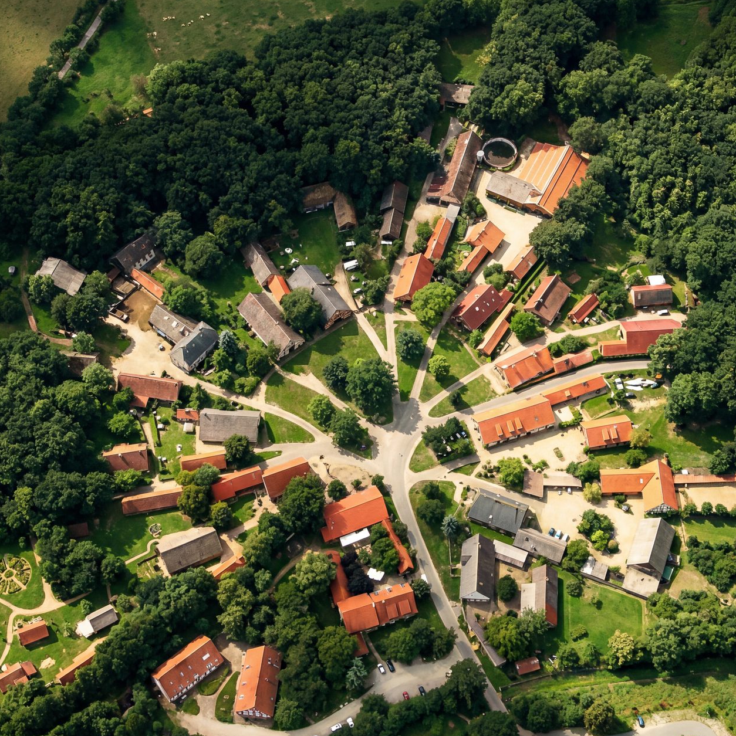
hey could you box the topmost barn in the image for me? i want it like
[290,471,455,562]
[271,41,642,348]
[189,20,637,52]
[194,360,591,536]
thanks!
[440,84,470,108]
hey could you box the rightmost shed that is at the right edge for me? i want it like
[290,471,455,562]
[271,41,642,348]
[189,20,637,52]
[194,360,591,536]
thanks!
[673,474,736,486]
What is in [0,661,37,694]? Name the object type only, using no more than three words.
house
